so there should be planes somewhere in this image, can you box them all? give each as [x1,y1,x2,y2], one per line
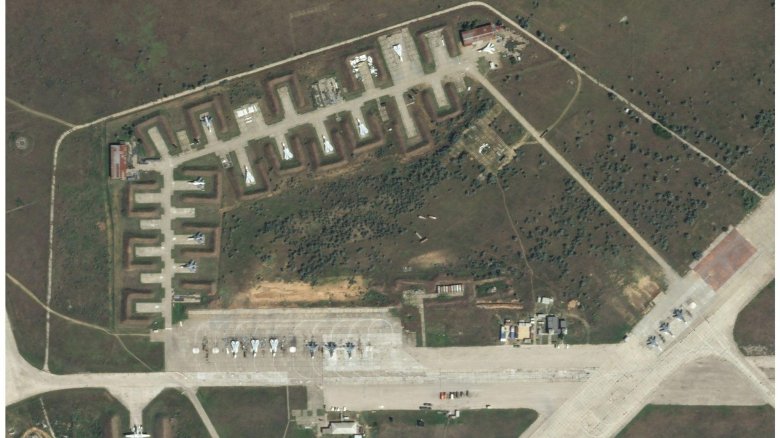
[190,233,206,245]
[190,178,206,190]
[247,168,255,184]
[181,261,197,273]
[660,321,673,337]
[344,340,356,357]
[478,43,496,51]
[284,144,292,161]
[270,340,278,357]
[251,340,259,357]
[306,340,318,356]
[360,120,369,137]
[232,340,239,356]
[394,43,402,59]
[647,335,660,350]
[325,340,337,356]
[324,136,334,153]
[124,428,150,438]
[673,308,686,322]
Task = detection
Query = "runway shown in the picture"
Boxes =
[521,186,780,438]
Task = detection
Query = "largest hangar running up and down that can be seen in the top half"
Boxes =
[110,145,127,179]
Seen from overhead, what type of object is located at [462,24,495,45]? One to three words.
hangar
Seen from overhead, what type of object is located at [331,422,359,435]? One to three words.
building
